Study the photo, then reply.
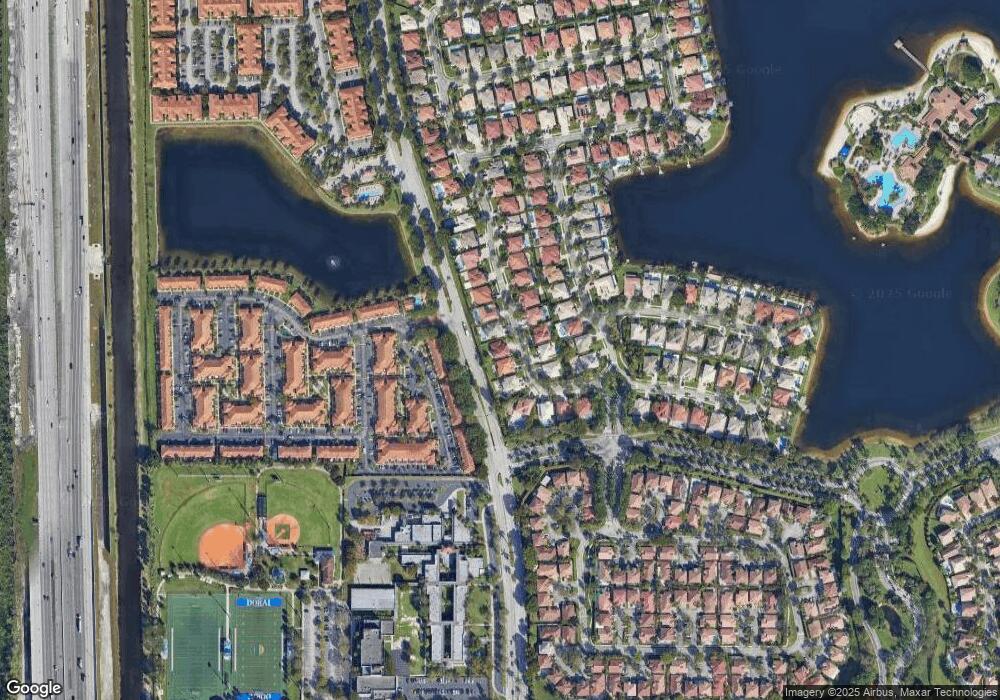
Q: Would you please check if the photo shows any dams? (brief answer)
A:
No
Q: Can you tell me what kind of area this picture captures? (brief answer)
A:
residential area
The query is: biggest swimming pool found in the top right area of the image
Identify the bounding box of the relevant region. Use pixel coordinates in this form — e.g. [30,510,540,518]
[865,170,906,208]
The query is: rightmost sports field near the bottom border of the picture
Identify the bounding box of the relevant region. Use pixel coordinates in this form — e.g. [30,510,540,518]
[231,594,288,700]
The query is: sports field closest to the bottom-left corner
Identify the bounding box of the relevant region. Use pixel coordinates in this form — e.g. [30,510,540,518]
[168,594,227,700]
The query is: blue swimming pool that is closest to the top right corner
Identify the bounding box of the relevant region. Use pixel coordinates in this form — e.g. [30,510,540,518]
[889,127,920,150]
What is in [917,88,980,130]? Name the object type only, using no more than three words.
building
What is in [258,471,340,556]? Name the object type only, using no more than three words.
baseball field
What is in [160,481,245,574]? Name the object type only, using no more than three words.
baseball field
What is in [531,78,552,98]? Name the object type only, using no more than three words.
house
